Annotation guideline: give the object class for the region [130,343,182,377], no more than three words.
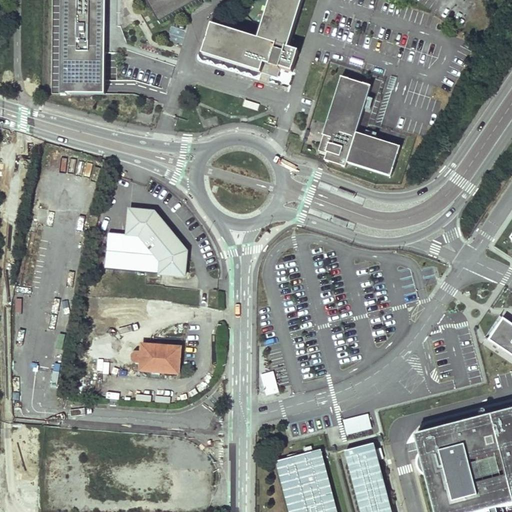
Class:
house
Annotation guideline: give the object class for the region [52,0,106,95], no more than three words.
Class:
building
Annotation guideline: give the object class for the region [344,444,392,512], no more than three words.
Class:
shed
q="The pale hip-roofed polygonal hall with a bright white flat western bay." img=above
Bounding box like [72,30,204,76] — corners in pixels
[104,207,189,278]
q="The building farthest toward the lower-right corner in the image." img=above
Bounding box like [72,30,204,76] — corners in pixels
[407,408,512,512]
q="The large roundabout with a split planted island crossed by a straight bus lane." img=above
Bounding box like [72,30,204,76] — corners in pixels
[189,131,291,230]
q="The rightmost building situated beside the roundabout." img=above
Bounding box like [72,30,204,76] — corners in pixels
[319,76,400,179]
